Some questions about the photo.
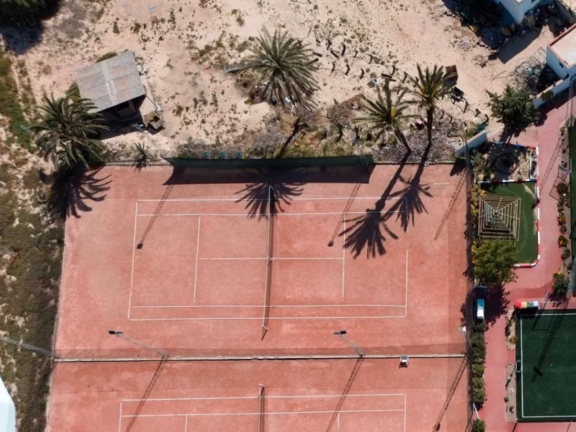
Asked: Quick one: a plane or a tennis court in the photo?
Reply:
tennis court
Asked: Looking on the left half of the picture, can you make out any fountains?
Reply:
No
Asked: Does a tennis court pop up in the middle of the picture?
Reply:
Yes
